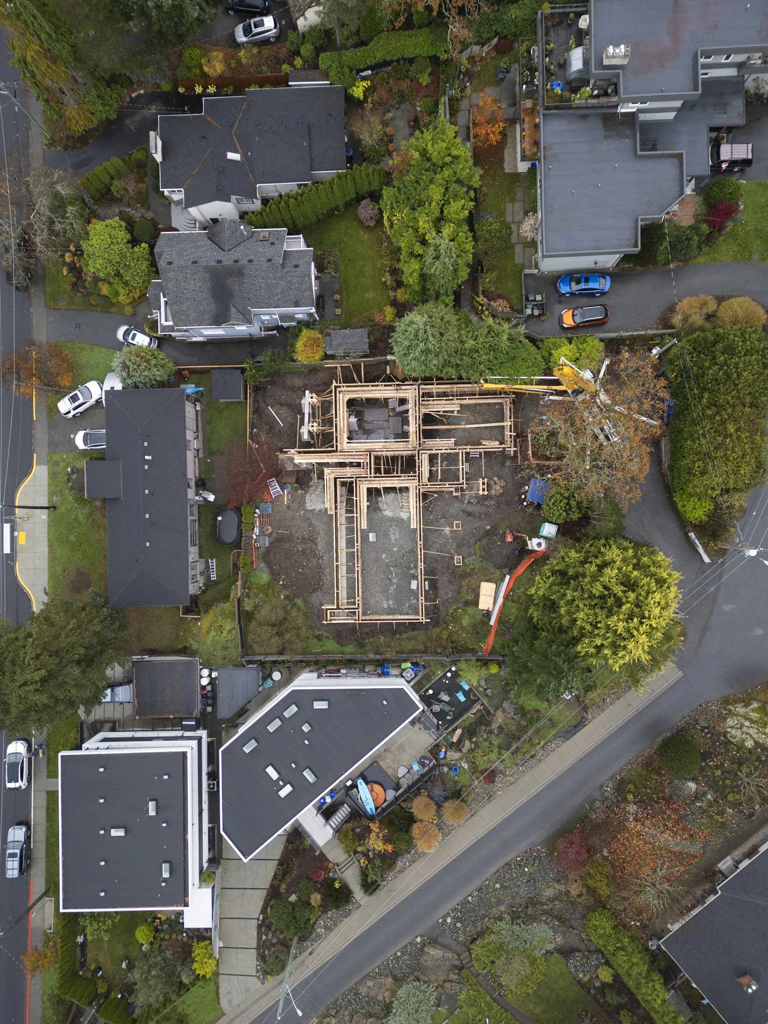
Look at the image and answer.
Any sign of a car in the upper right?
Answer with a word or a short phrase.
Yes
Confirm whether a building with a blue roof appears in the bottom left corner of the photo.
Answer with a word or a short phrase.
No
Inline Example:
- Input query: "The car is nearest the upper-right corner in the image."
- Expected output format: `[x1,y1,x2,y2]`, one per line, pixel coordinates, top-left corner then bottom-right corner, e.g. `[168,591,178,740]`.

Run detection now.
[709,143,757,173]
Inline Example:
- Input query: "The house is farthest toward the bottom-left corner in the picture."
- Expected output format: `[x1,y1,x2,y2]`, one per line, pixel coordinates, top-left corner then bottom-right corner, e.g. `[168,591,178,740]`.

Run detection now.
[59,721,218,928]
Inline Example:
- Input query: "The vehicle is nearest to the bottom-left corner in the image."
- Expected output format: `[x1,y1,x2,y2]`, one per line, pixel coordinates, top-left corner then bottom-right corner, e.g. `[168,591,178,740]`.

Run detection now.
[4,819,34,880]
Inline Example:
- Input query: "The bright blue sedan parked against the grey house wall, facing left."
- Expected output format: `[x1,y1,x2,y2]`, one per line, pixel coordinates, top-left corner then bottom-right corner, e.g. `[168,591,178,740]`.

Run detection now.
[555,271,611,299]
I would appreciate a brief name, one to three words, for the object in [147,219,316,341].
house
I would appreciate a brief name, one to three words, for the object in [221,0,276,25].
car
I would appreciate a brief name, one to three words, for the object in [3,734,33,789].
car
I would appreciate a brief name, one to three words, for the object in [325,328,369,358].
shed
